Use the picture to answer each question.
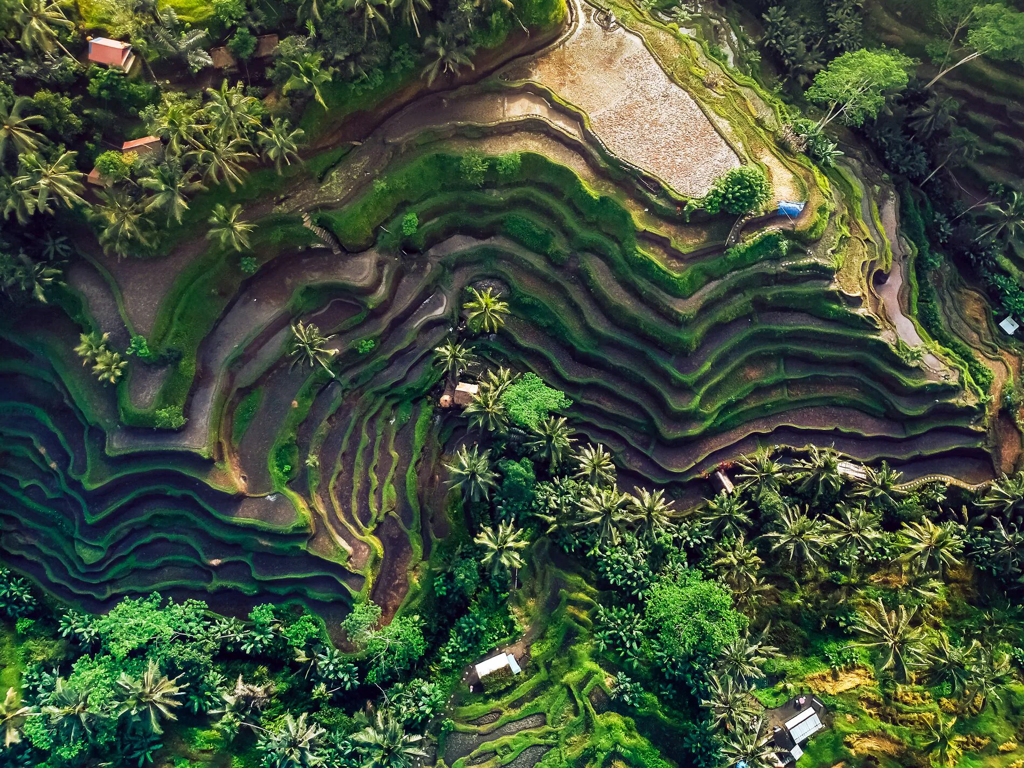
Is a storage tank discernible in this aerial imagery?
No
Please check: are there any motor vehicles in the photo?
No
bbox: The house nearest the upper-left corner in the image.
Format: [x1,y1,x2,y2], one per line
[88,37,146,77]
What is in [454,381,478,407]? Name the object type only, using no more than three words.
shed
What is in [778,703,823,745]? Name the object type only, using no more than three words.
shed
